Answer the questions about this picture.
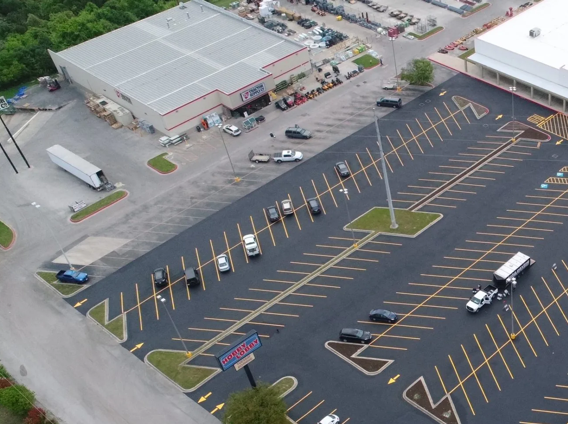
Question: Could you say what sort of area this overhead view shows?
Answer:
parking lot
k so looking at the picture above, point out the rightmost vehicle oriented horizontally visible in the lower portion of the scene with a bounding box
[368,310,398,324]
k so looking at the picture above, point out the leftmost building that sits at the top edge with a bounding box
[47,0,311,137]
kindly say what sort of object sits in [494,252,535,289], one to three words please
trailer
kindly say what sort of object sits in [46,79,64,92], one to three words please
vehicle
